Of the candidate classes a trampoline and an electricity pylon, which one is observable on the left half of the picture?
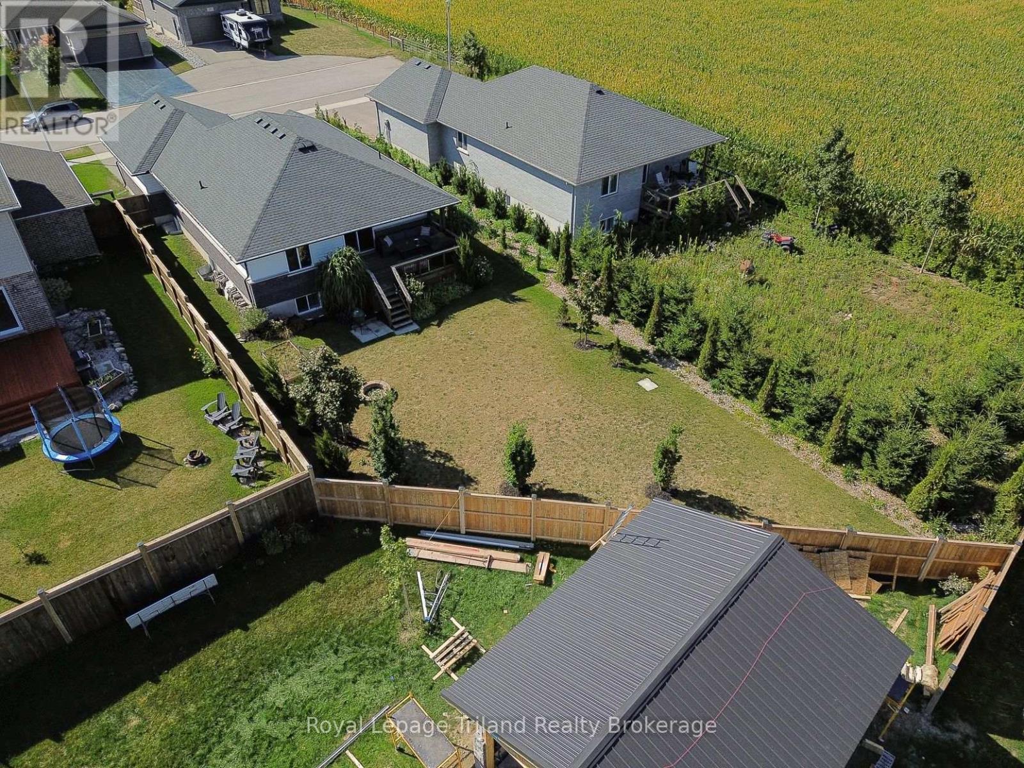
trampoline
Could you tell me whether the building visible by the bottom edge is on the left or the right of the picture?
right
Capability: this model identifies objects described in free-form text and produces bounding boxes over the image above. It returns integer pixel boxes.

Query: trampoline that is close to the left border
[17,371,125,475]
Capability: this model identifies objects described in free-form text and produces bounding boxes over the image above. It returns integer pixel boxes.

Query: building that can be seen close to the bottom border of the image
[440,497,913,768]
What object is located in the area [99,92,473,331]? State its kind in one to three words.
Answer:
house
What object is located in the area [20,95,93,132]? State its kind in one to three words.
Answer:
car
